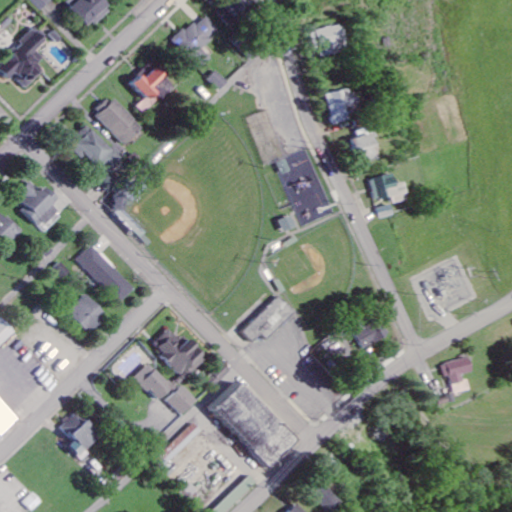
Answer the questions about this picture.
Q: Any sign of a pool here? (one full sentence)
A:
Yes, looking at the shot, I can spot a pool.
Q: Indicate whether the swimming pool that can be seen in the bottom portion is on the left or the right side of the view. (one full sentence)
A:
You can find the swimming pool that can be seen in the bottom portion on the left side of the picture.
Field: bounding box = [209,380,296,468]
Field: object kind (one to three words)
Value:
building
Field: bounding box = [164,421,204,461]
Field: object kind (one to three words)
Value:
shed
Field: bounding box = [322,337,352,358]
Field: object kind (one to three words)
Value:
house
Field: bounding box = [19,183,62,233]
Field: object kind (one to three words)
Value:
house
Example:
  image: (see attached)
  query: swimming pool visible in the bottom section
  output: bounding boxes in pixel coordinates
[120,352,143,372]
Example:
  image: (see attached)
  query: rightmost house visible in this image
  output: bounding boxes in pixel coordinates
[440,356,474,398]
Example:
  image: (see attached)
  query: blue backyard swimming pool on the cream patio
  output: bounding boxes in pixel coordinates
[50,45,68,64]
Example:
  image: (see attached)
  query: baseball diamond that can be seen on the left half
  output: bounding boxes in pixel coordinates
[132,178,197,243]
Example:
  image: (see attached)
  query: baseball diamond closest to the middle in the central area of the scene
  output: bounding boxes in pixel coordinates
[280,244,325,294]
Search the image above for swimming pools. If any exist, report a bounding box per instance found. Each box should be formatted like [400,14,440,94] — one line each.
[120,352,143,372]
[50,45,68,64]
